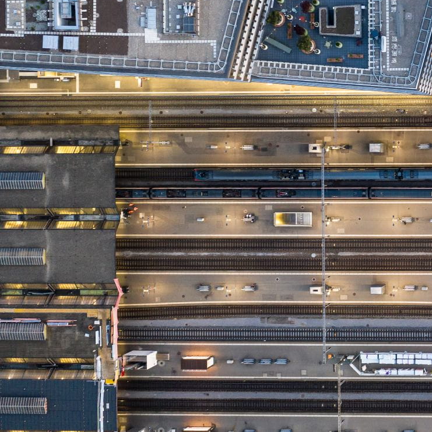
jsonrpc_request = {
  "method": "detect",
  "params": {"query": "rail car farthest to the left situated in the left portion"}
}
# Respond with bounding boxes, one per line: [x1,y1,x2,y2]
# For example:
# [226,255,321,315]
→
[117,187,155,199]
